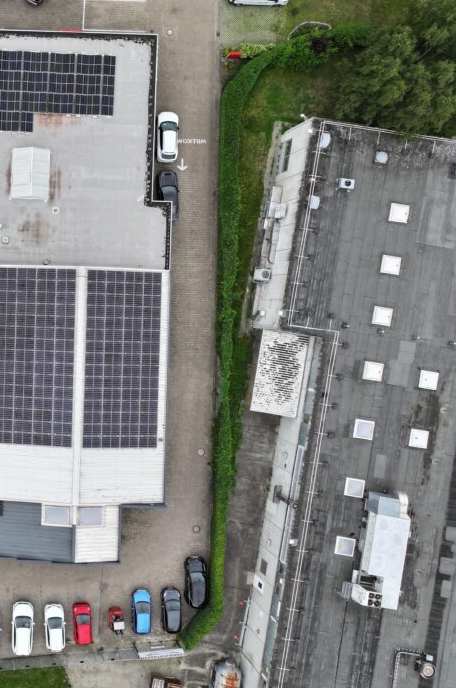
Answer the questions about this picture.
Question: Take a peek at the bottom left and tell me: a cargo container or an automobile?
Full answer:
The one visible at the bottom left is an automobile.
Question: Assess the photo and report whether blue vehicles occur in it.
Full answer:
Yes, a blue vehicle is visible in the scene.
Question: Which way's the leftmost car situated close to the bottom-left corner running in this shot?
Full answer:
From this overhead view, the leftmost car situated close to the bottom-left corner appears to run up and down.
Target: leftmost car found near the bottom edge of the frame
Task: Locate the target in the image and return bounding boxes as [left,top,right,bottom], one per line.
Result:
[10,600,36,659]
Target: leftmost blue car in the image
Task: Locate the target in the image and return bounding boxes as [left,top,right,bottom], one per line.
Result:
[130,587,154,635]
